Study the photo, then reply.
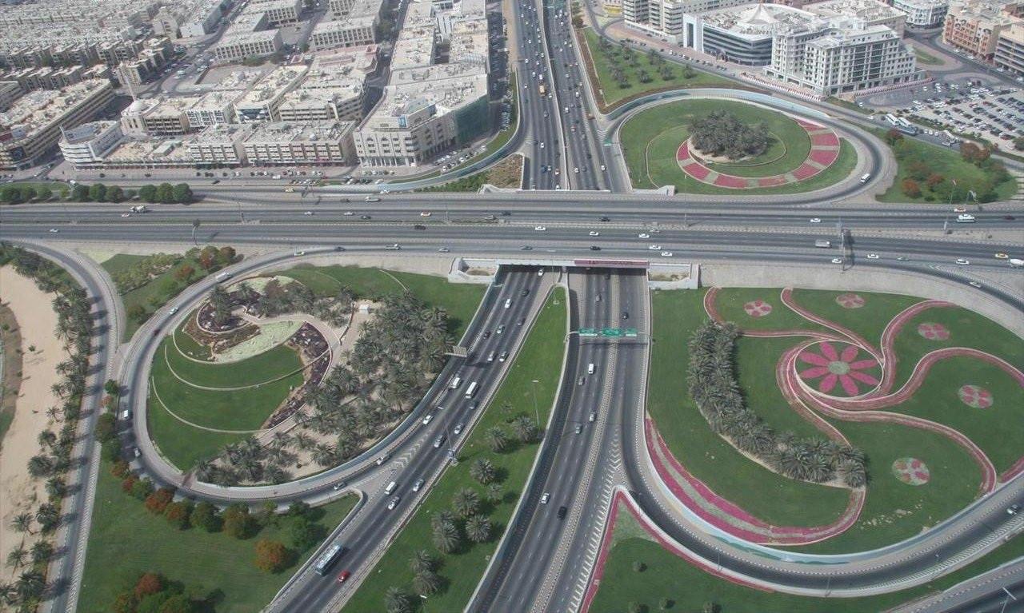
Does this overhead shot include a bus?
Yes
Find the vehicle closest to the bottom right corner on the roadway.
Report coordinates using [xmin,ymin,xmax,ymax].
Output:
[1005,503,1021,515]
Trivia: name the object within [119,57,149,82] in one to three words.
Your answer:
house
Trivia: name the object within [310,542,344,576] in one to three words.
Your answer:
bus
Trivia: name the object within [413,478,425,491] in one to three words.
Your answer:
vehicle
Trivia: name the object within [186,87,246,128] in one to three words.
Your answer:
building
